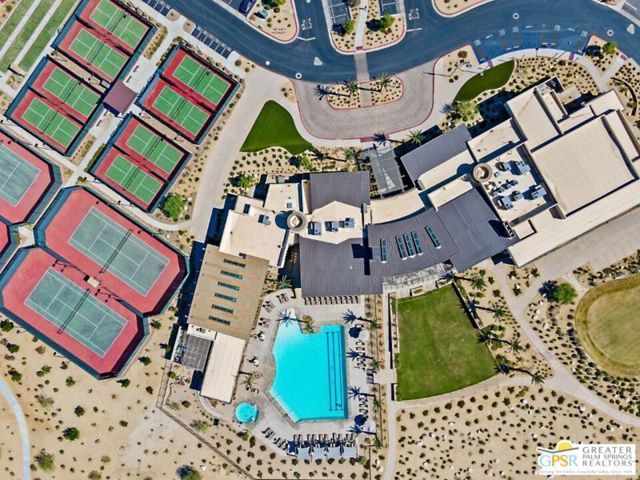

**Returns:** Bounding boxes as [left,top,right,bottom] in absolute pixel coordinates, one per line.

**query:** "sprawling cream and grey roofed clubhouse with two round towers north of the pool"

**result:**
[220,76,640,296]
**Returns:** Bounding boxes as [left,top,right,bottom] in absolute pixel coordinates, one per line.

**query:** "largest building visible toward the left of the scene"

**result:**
[180,245,269,402]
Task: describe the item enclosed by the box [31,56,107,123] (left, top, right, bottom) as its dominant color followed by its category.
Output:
green sports court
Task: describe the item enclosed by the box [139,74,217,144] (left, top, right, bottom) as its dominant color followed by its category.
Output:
green sports court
